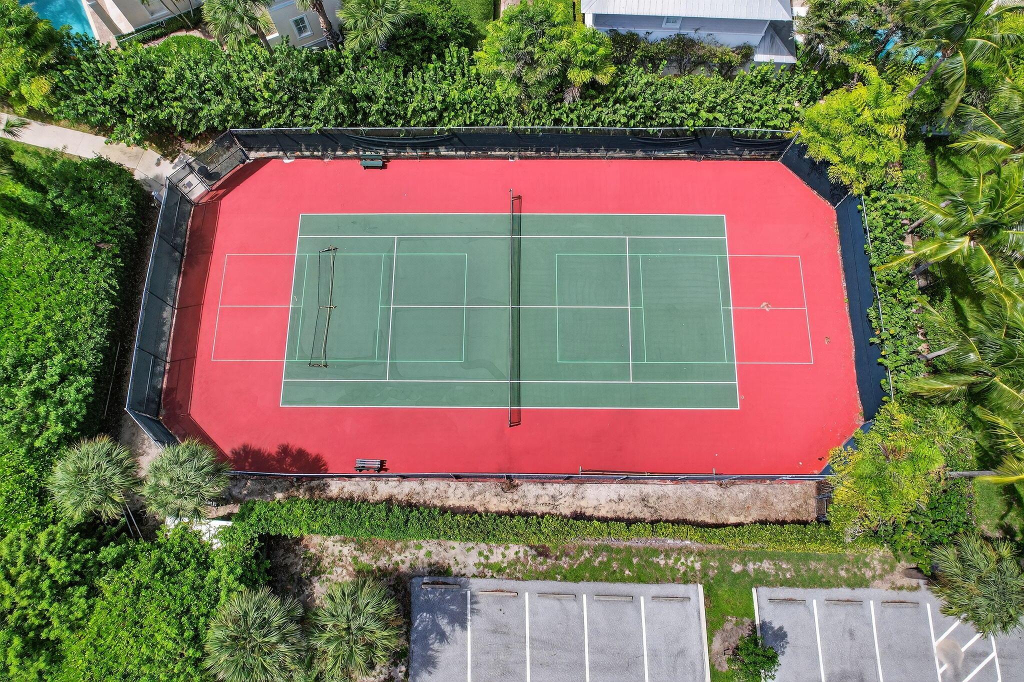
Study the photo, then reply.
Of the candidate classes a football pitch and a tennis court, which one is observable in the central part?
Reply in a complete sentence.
You can see a tennis court in the central part.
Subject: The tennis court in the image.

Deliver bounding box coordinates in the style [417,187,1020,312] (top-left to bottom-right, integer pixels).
[162,157,862,487]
